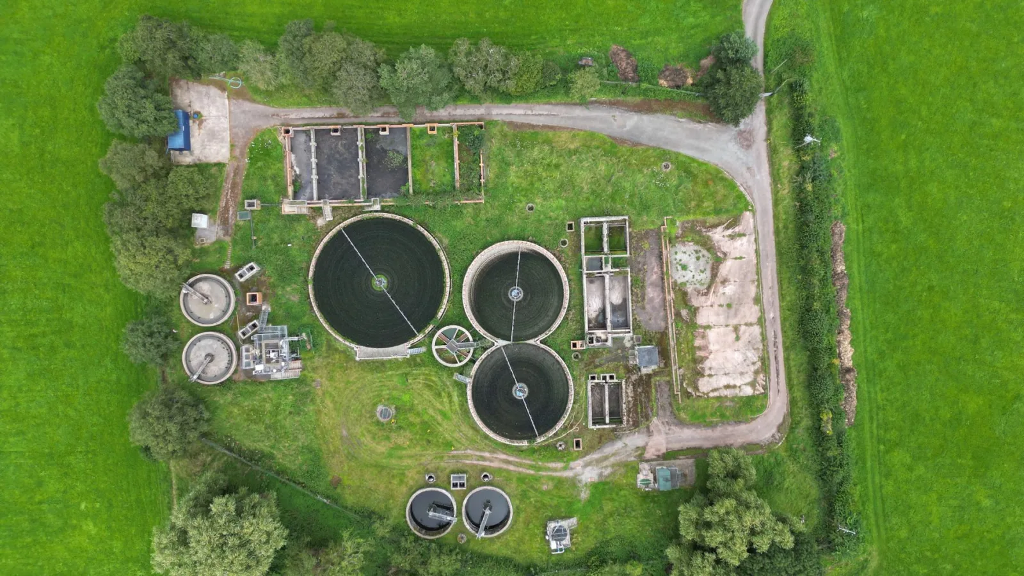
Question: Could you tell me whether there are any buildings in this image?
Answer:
Yes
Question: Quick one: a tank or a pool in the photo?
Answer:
tank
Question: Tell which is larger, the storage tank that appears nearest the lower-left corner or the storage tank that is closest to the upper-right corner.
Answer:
the storage tank that is closest to the upper-right corner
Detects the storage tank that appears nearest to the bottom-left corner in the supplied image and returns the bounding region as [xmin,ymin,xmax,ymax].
[183,330,239,385]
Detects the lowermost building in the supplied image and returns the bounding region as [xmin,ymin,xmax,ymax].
[546,518,571,554]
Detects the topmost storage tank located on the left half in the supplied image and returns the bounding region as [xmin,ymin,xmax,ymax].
[179,273,238,327]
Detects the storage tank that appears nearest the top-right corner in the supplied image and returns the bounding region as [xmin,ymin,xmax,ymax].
[580,216,633,348]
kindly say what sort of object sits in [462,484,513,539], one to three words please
storage tank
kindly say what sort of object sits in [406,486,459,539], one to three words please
storage tank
